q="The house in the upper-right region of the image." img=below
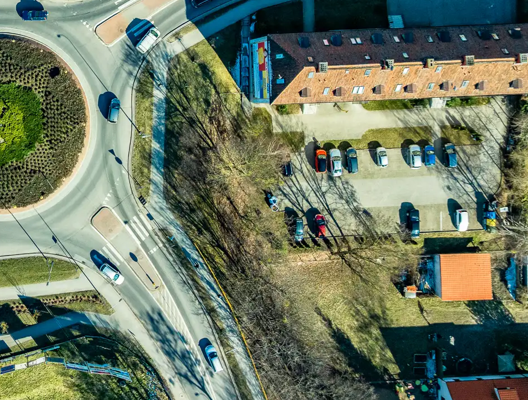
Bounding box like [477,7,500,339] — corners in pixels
[251,13,528,113]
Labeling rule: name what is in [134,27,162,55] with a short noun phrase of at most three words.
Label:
car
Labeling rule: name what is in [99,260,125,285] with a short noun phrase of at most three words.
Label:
car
